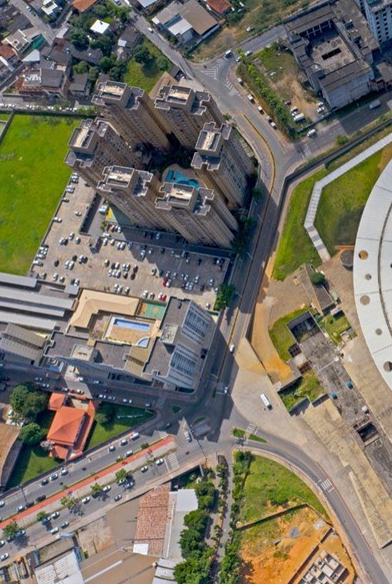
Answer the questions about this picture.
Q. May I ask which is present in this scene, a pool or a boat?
pool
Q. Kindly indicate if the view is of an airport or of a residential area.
residential area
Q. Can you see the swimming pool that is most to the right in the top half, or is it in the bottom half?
top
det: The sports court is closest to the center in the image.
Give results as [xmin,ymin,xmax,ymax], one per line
[139,302,170,321]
